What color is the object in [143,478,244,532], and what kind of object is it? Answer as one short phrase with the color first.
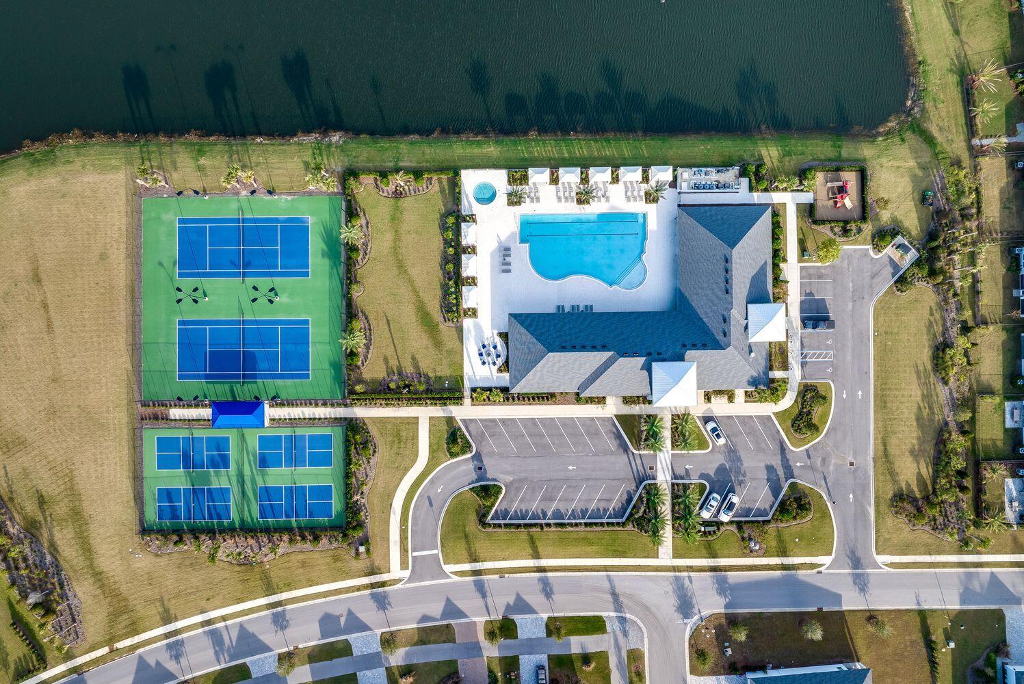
blue sports court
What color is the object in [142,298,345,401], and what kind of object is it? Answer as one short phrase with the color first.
green tennis court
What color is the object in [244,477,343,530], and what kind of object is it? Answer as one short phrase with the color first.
blue sports court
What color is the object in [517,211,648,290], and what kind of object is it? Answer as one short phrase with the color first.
blue swimming pool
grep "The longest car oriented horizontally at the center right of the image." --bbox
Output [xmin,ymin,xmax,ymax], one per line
[802,318,836,331]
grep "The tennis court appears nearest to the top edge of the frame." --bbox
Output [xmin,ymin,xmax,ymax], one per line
[142,196,344,299]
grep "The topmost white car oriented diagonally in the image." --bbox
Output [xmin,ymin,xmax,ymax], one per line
[705,420,725,447]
